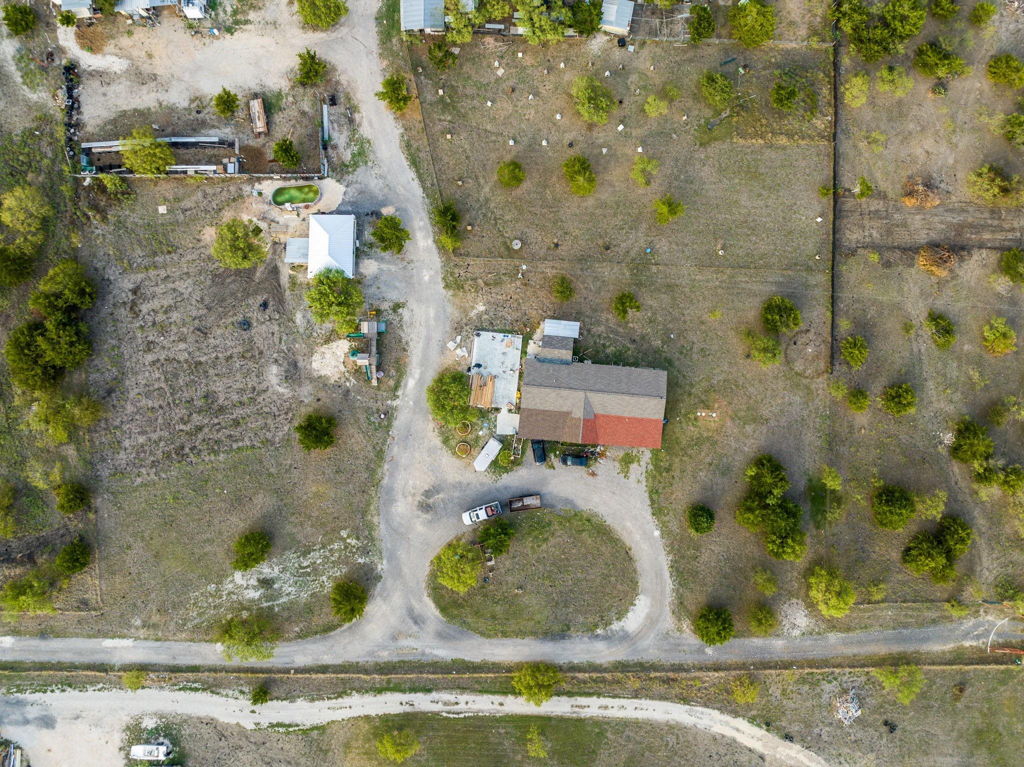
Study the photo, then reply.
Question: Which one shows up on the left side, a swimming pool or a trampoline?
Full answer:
The one visible on the left side is a swimming pool.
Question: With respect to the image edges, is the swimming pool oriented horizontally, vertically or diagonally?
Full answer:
The swimming pool is laid out horizontally.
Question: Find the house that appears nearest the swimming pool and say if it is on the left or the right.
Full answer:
It is on the left.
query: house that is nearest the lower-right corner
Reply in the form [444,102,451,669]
[518,319,667,448]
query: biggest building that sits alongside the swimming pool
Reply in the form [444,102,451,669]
[285,214,356,278]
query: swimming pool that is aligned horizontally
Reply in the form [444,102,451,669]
[270,183,323,208]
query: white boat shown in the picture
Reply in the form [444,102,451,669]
[131,745,169,760]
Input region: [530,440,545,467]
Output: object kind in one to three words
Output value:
car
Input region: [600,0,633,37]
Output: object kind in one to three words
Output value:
barn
